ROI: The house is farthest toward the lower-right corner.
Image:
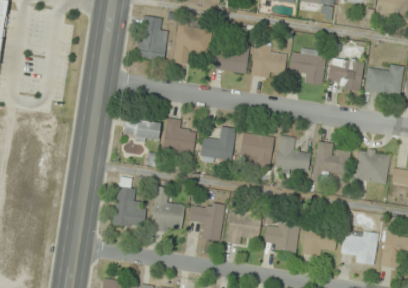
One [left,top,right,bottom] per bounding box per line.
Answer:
[381,232,408,270]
